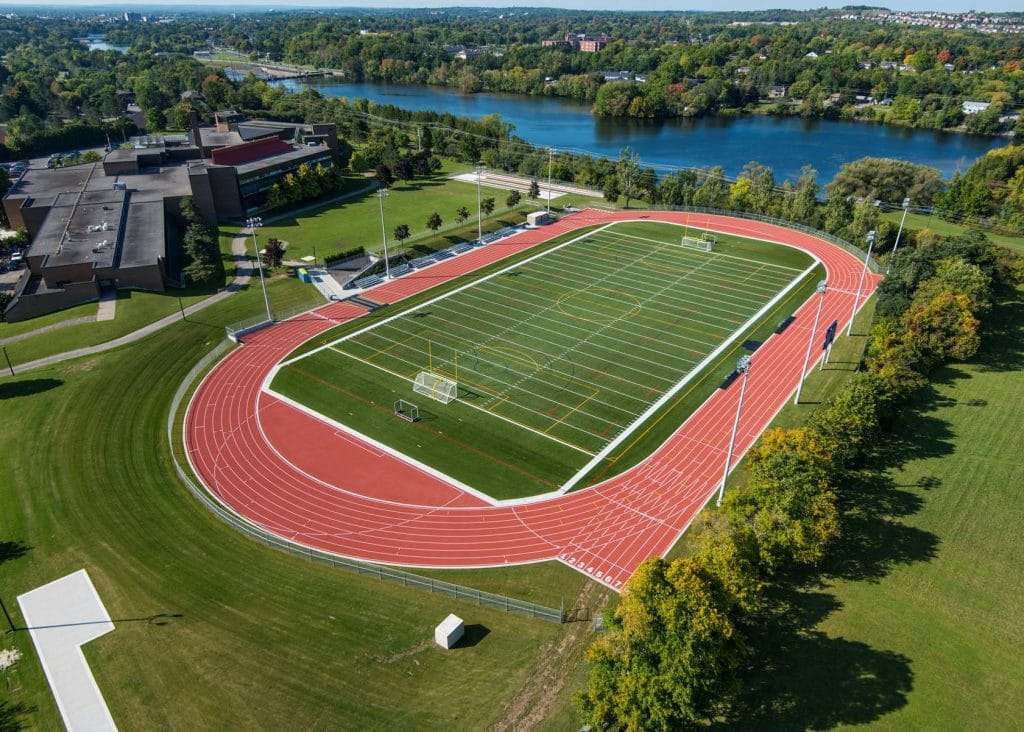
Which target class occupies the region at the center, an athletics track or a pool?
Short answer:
athletics track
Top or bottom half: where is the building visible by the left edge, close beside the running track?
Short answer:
top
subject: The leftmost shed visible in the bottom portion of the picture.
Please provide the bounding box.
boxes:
[434,611,463,648]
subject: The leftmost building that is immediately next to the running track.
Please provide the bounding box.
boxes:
[0,110,340,321]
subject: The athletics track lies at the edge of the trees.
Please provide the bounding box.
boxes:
[185,206,878,595]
